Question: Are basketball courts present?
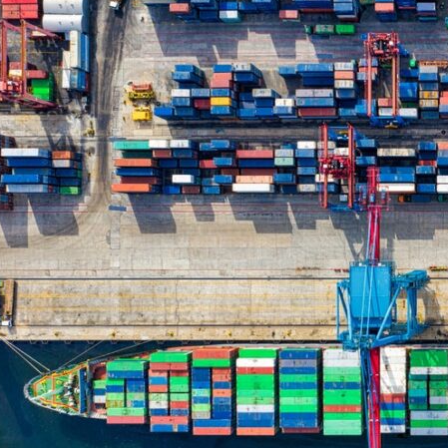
No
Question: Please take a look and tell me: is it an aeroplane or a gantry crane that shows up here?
gantry crane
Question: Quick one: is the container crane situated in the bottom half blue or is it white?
blue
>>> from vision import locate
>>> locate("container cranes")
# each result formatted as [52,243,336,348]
[361,30,408,132]
[320,120,372,217]
[336,168,430,448]
[2,17,78,113]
